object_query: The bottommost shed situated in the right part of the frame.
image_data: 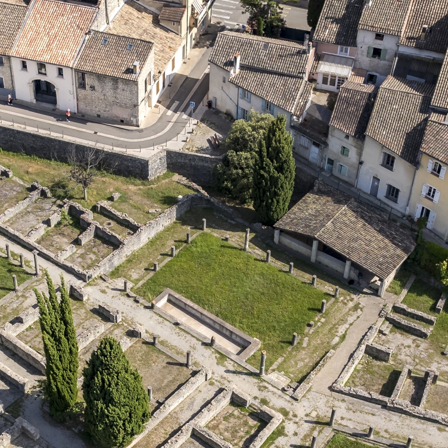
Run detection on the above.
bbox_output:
[269,197,419,299]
